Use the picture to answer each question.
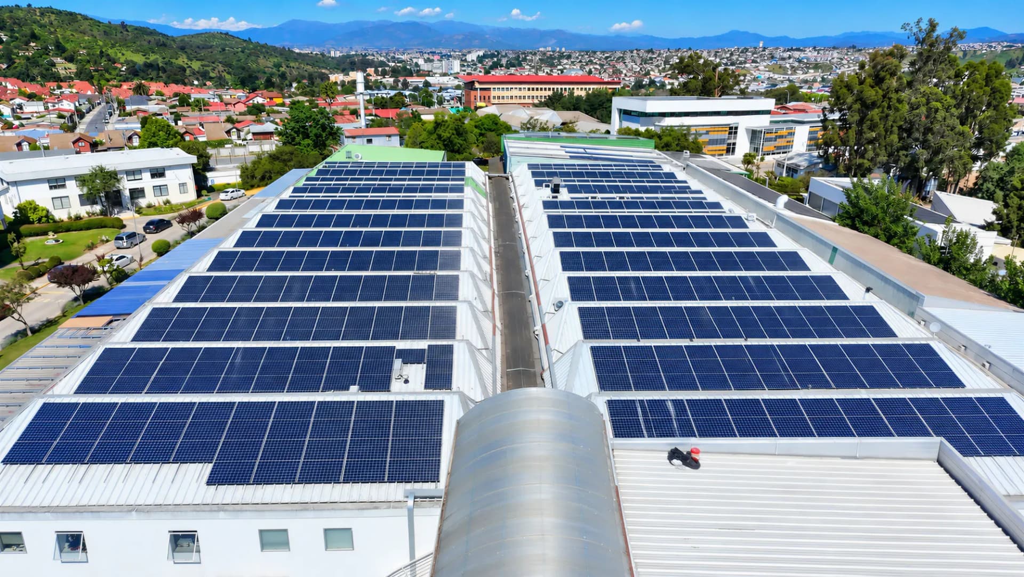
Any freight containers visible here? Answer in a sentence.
No, the photo shows no freight container.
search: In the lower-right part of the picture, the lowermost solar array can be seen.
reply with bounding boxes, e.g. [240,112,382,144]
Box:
[607,397,1024,454]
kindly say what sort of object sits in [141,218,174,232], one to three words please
car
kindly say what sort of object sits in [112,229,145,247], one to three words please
car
